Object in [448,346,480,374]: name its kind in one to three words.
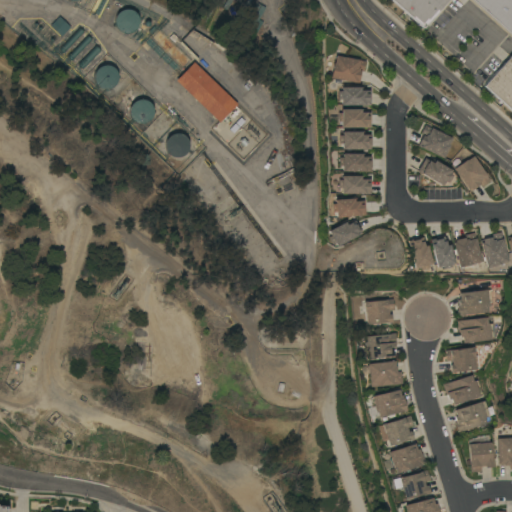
house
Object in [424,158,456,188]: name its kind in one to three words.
house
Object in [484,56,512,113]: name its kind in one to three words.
building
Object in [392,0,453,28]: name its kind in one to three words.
building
